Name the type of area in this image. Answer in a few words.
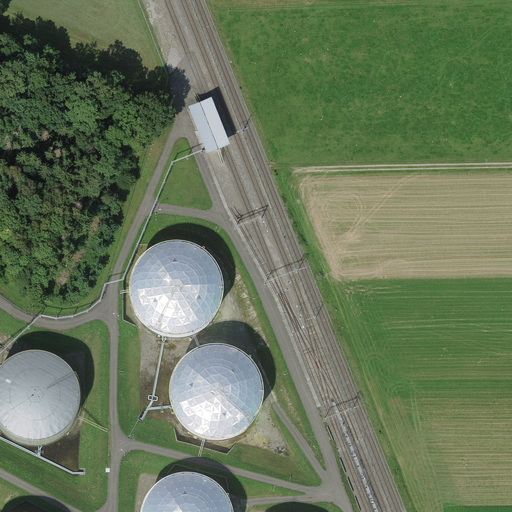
industrial area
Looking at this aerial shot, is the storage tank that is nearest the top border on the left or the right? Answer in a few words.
left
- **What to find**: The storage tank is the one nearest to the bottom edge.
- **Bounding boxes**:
[141,472,236,512]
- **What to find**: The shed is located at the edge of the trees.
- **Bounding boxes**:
[189,97,230,156]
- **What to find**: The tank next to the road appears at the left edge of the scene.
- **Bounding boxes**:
[0,349,84,444]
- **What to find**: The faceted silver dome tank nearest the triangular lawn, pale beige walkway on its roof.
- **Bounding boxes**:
[130,240,226,337]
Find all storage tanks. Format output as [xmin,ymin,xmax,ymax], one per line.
[141,472,236,512]
[130,240,226,337]
[169,343,266,440]
[0,349,84,444]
